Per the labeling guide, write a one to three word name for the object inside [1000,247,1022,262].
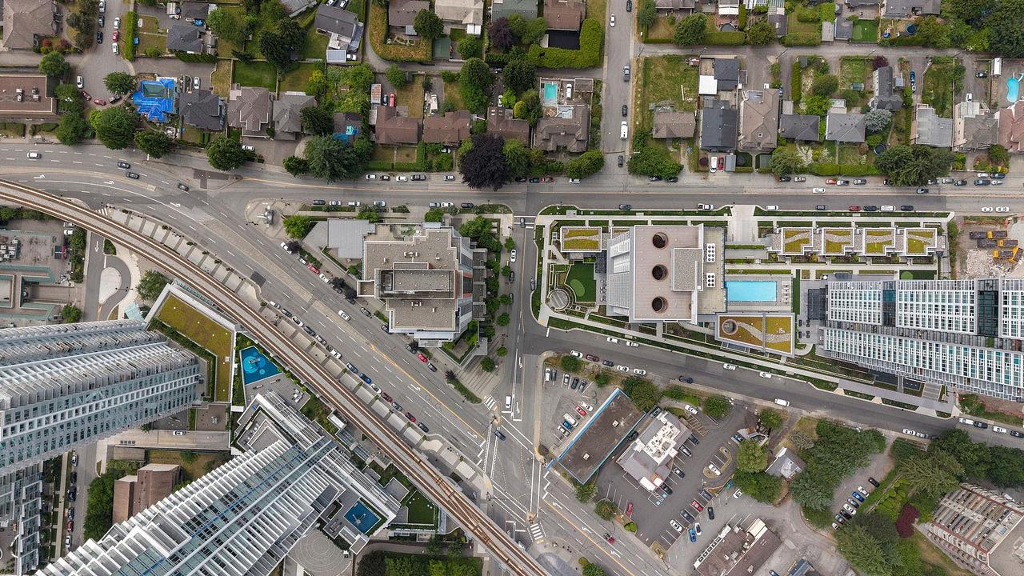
work vehicle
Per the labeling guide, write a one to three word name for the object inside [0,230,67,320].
building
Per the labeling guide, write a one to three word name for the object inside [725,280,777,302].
swimming pool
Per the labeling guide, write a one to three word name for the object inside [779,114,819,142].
house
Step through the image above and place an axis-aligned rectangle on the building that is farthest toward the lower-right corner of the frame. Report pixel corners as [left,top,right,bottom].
[929,484,1024,576]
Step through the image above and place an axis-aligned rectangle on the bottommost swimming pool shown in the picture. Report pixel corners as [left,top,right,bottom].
[342,500,382,534]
